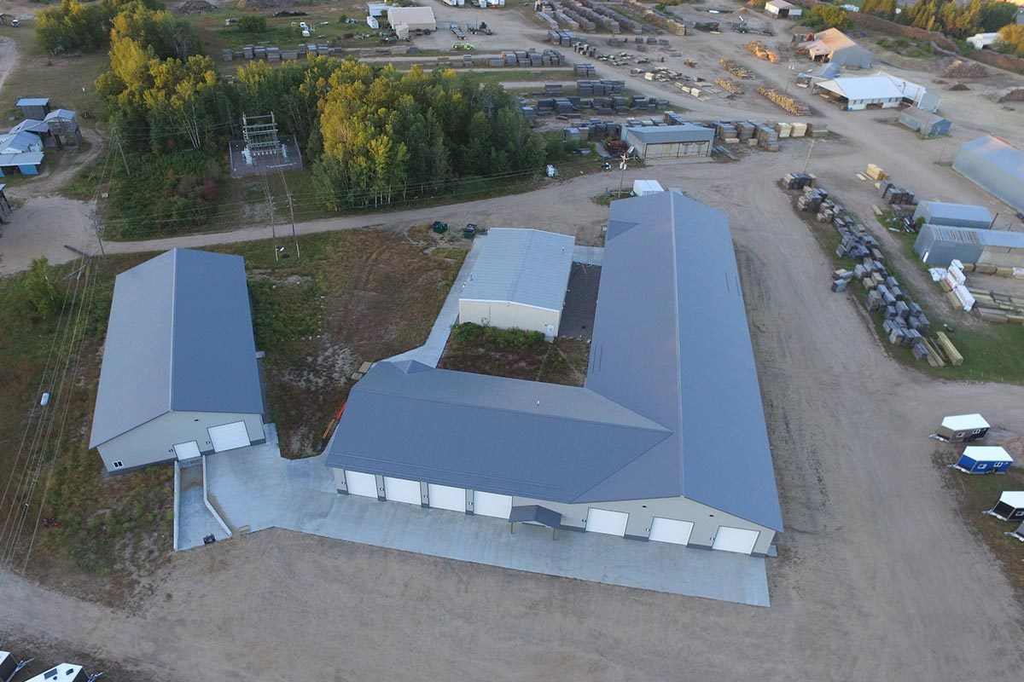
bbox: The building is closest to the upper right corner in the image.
[967,32,1000,51]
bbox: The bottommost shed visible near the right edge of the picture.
[914,220,1024,273]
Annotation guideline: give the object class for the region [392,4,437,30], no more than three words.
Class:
building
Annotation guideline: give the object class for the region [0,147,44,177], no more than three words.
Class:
shed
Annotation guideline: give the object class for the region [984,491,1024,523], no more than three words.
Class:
trailer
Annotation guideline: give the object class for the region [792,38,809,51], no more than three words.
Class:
vehicle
